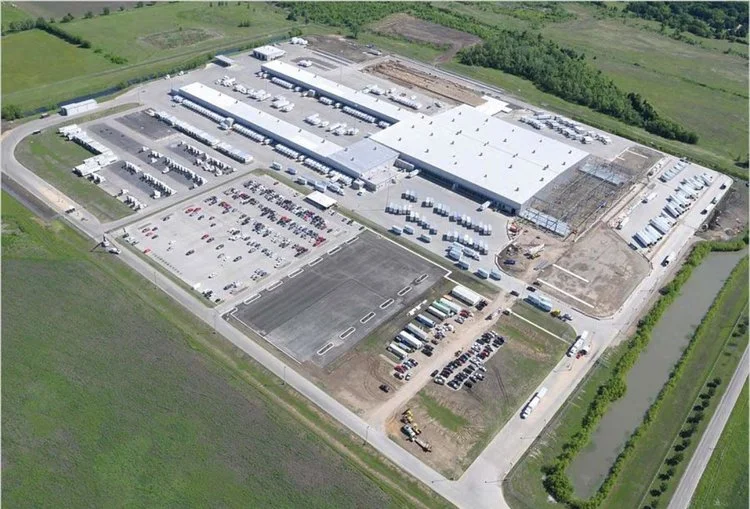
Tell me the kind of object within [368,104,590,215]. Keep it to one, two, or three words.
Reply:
building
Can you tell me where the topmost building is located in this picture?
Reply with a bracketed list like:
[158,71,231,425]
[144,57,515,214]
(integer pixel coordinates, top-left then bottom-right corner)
[253,46,286,62]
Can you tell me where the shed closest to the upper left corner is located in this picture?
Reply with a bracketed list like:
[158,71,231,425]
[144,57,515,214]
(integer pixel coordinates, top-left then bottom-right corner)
[62,101,100,117]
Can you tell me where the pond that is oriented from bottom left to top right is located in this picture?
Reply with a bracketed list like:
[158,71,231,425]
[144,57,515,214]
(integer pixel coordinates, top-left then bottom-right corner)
[568,245,750,498]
